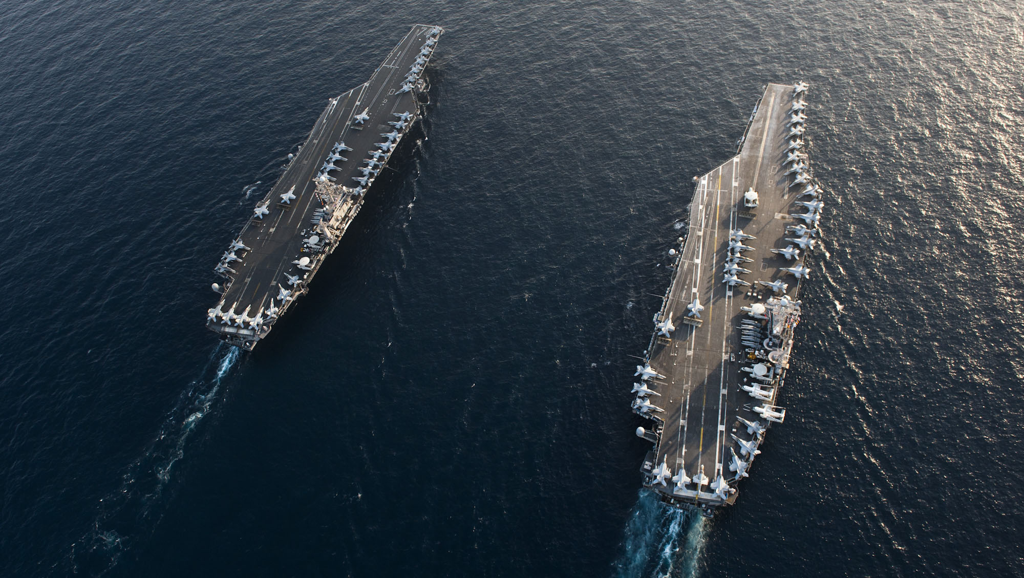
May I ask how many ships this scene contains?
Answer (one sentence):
In total, there are 2 ships in the scene.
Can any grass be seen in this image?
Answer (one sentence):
No, grass can't be seen anywhere here.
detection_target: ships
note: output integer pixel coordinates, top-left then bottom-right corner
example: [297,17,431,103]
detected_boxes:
[204,24,443,359]
[627,83,824,531]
